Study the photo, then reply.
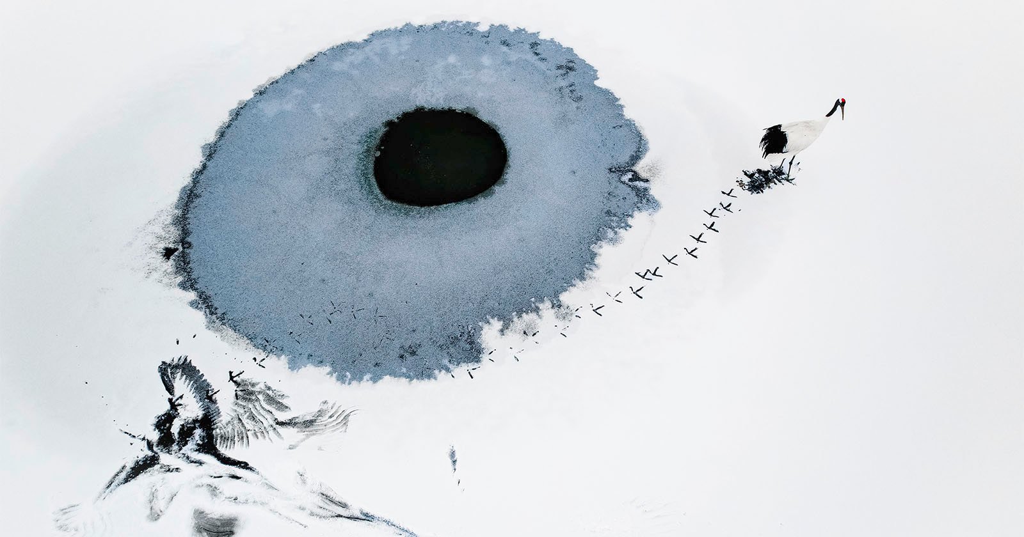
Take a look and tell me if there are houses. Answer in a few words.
No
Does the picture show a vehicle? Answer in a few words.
No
